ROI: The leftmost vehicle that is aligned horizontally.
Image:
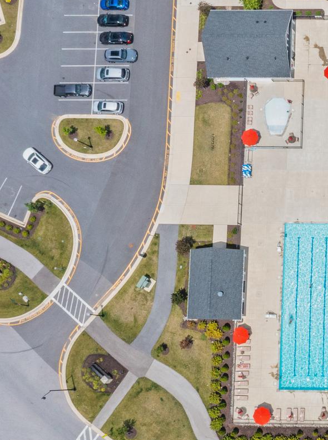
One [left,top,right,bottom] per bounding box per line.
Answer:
[52,82,95,98]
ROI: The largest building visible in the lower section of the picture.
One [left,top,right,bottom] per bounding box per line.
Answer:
[187,248,248,321]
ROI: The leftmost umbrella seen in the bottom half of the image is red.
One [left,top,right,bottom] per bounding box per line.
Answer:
[233,327,250,343]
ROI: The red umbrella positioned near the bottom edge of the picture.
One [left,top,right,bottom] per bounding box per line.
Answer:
[254,405,271,423]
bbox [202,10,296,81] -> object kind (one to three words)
building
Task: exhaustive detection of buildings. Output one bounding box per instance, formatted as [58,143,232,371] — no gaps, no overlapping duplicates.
[202,10,296,81]
[187,248,248,321]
